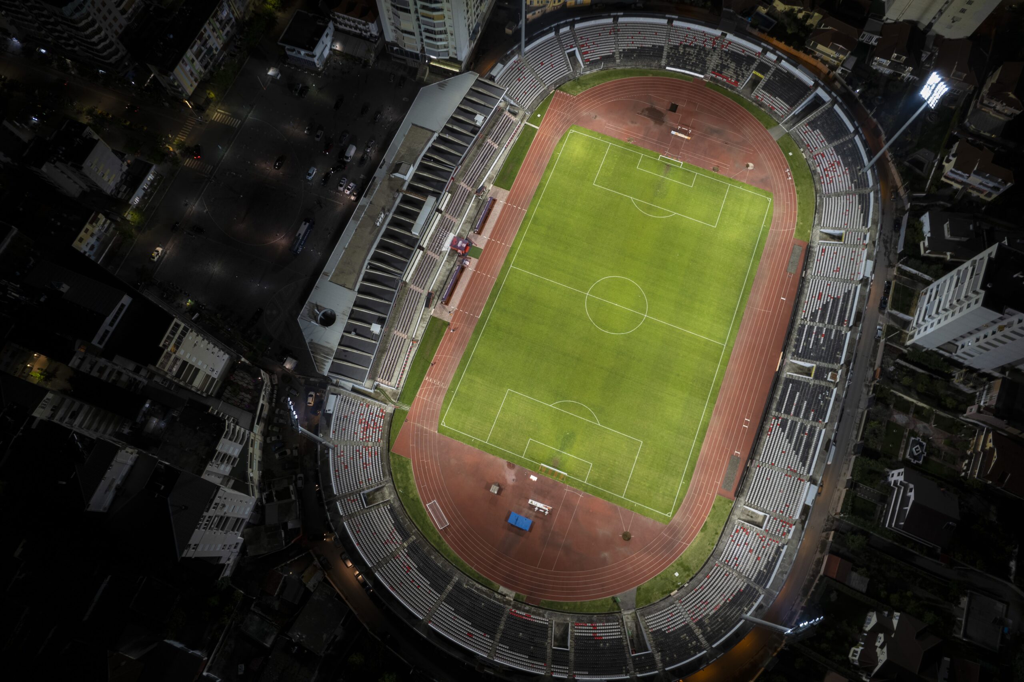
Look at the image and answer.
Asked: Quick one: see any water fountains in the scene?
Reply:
Yes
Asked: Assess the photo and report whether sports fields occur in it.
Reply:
Yes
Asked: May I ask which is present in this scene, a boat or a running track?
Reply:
running track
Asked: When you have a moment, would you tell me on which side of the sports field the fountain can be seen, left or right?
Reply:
right of it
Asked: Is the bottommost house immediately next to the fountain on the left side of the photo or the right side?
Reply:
right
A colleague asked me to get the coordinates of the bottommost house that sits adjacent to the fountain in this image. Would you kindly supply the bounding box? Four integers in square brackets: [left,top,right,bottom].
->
[888,469,961,548]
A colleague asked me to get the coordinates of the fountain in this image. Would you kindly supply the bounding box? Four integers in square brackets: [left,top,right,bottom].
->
[905,435,931,467]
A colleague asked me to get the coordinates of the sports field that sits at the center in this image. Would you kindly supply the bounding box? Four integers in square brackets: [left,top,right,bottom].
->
[437,124,775,525]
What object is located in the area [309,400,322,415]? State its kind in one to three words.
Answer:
vehicle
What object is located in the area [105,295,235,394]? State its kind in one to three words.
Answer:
building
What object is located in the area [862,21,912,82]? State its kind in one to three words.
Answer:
house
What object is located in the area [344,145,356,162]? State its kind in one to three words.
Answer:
vehicle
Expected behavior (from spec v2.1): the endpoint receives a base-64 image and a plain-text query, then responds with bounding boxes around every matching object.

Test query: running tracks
[391,75,807,607]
